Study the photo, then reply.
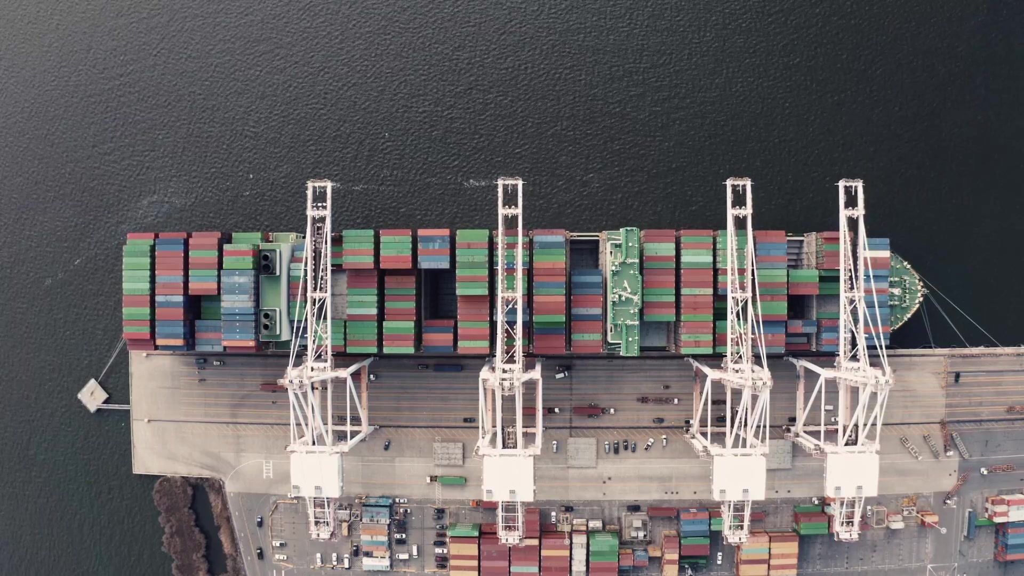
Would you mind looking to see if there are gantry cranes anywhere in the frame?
Yes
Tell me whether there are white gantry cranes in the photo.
Yes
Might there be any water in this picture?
Yes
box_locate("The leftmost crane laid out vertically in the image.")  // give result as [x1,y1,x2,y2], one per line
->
[285,178,384,547]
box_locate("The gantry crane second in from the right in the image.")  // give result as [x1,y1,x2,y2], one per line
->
[675,176,771,549]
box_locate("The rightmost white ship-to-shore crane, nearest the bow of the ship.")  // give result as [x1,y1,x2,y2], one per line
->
[772,174,891,549]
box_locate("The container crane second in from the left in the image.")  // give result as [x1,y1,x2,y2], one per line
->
[473,177,551,549]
